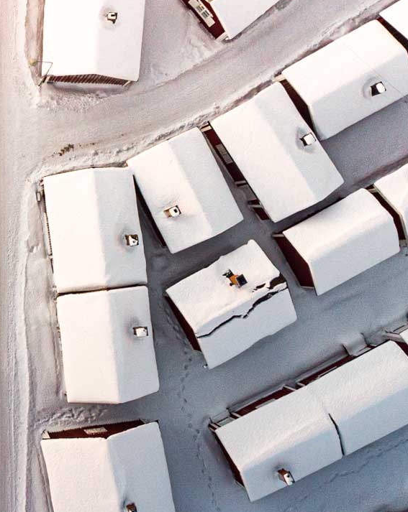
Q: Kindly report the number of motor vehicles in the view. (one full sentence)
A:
There are no motor vehicles in the image.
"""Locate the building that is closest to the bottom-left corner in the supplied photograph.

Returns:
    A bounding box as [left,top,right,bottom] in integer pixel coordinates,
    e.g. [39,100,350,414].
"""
[42,417,175,512]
